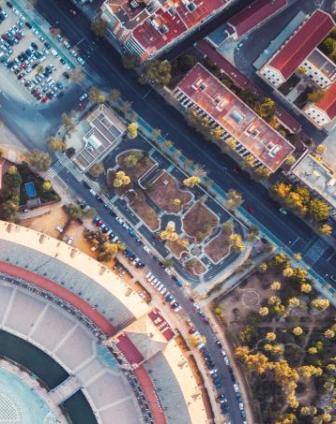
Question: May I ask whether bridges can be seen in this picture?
Yes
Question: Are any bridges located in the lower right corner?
No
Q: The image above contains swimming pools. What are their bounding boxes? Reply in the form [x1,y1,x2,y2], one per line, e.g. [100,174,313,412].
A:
[25,182,37,198]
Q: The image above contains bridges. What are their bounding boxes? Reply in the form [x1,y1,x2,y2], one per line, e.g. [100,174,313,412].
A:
[47,373,83,408]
